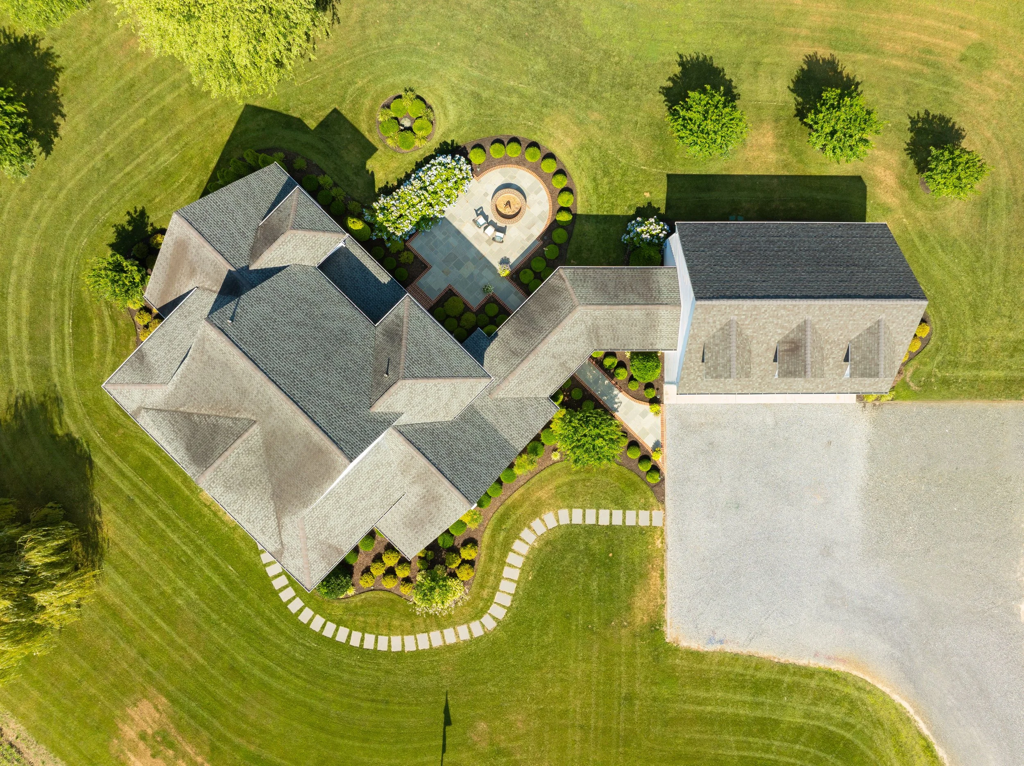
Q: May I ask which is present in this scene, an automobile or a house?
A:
house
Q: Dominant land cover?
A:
grass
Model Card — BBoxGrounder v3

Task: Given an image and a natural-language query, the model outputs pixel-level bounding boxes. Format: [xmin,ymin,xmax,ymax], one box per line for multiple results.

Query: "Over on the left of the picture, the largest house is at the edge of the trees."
[100,162,561,594]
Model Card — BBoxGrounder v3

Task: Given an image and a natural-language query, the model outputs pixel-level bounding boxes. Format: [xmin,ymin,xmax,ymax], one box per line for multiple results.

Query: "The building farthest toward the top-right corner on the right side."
[664,220,929,396]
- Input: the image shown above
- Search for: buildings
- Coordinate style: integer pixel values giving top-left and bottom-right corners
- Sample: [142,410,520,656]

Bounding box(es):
[100,162,561,594]
[664,220,929,396]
